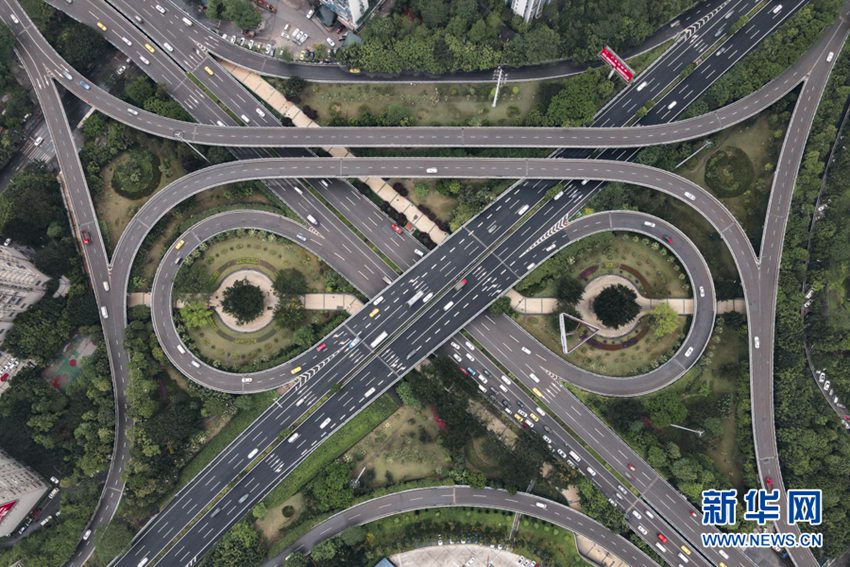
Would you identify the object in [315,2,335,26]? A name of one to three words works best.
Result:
building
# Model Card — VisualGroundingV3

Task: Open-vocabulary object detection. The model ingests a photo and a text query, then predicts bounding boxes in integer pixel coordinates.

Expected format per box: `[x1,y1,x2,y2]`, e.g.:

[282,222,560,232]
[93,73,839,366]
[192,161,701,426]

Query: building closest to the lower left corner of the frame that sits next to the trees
[0,455,47,548]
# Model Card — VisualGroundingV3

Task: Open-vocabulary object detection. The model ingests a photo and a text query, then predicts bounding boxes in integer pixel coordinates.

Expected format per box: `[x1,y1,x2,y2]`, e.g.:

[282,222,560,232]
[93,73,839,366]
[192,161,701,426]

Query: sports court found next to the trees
[43,335,95,392]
